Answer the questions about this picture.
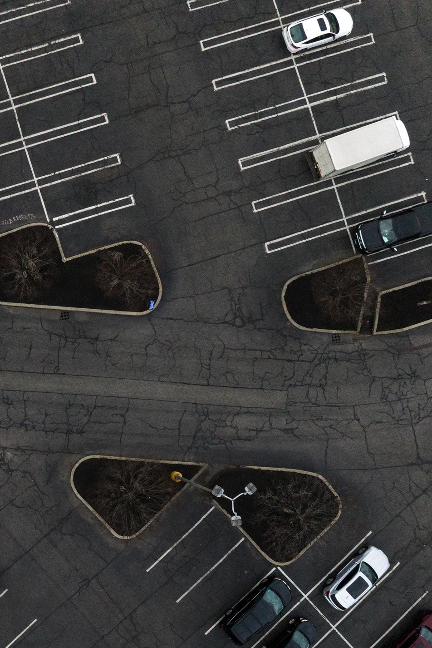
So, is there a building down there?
No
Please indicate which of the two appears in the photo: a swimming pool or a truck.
truck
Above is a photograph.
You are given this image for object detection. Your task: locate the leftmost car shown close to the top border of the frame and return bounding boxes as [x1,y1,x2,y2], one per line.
[281,9,352,55]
